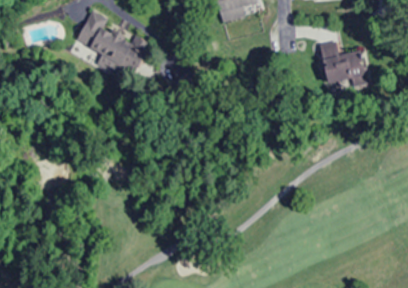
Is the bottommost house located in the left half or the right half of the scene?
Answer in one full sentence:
The bottommost house is on the right side of the image.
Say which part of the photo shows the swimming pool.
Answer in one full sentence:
The swimming pool is in the top left part of the image.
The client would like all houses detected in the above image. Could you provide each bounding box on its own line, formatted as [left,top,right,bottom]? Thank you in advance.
[219,0,264,22]
[320,42,370,88]
[73,7,148,73]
